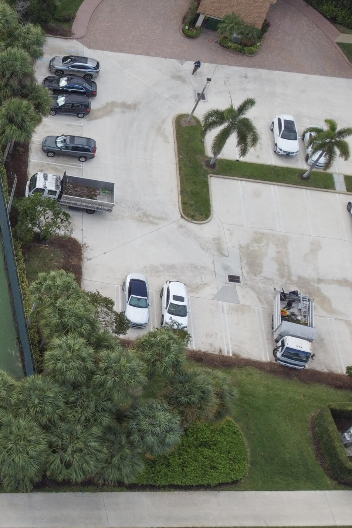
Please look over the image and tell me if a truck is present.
Yes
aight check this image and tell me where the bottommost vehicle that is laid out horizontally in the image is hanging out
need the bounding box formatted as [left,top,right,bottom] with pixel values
[30,172,117,215]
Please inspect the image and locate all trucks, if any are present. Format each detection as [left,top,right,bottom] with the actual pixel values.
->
[272,292,321,374]
[30,172,117,215]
